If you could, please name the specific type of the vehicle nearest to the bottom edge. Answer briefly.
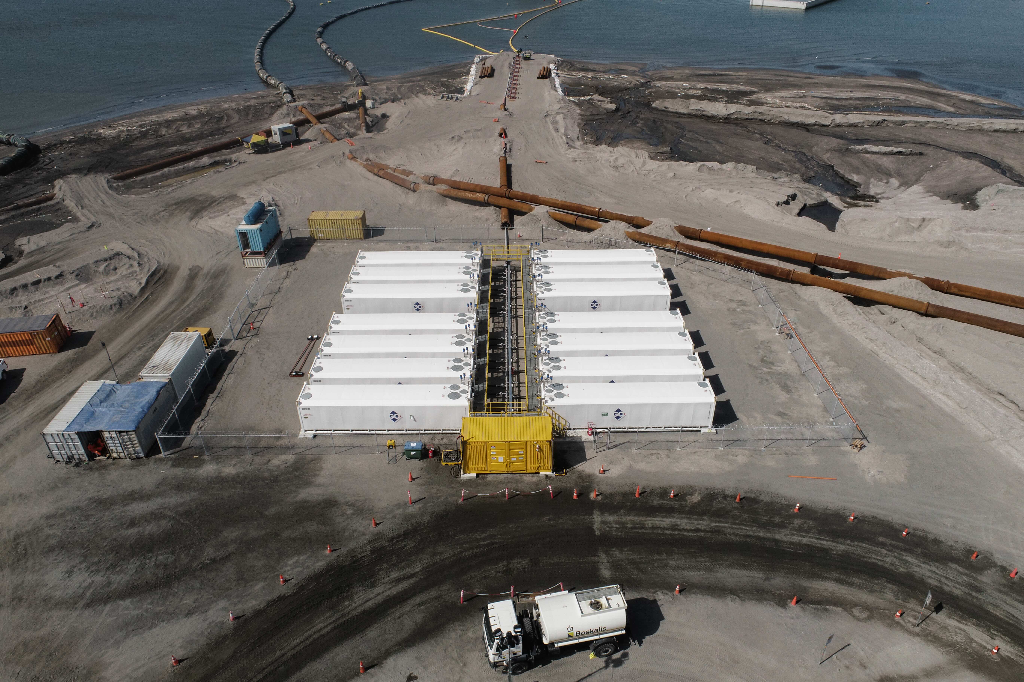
truck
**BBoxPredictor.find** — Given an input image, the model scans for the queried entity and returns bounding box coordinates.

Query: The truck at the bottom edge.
[481,578,634,677]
